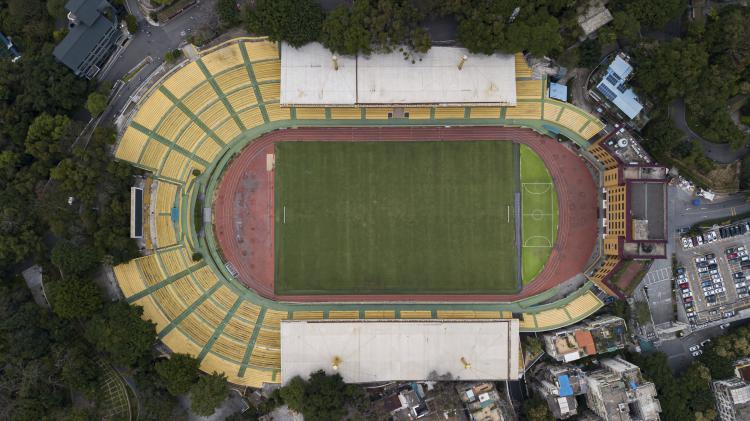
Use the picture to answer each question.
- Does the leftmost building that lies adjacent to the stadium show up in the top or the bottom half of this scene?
top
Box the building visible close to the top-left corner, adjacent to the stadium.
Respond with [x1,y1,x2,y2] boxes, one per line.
[53,0,135,83]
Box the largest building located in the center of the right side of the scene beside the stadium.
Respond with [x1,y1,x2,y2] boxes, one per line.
[589,122,667,302]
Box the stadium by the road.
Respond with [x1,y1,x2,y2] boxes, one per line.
[113,35,612,388]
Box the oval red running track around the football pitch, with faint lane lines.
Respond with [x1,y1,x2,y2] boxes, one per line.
[214,126,597,303]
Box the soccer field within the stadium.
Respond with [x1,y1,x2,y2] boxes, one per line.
[274,141,521,295]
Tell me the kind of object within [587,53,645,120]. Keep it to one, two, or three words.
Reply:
house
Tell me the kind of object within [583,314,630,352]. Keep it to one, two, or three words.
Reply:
house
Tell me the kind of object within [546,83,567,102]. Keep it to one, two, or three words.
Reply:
shed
